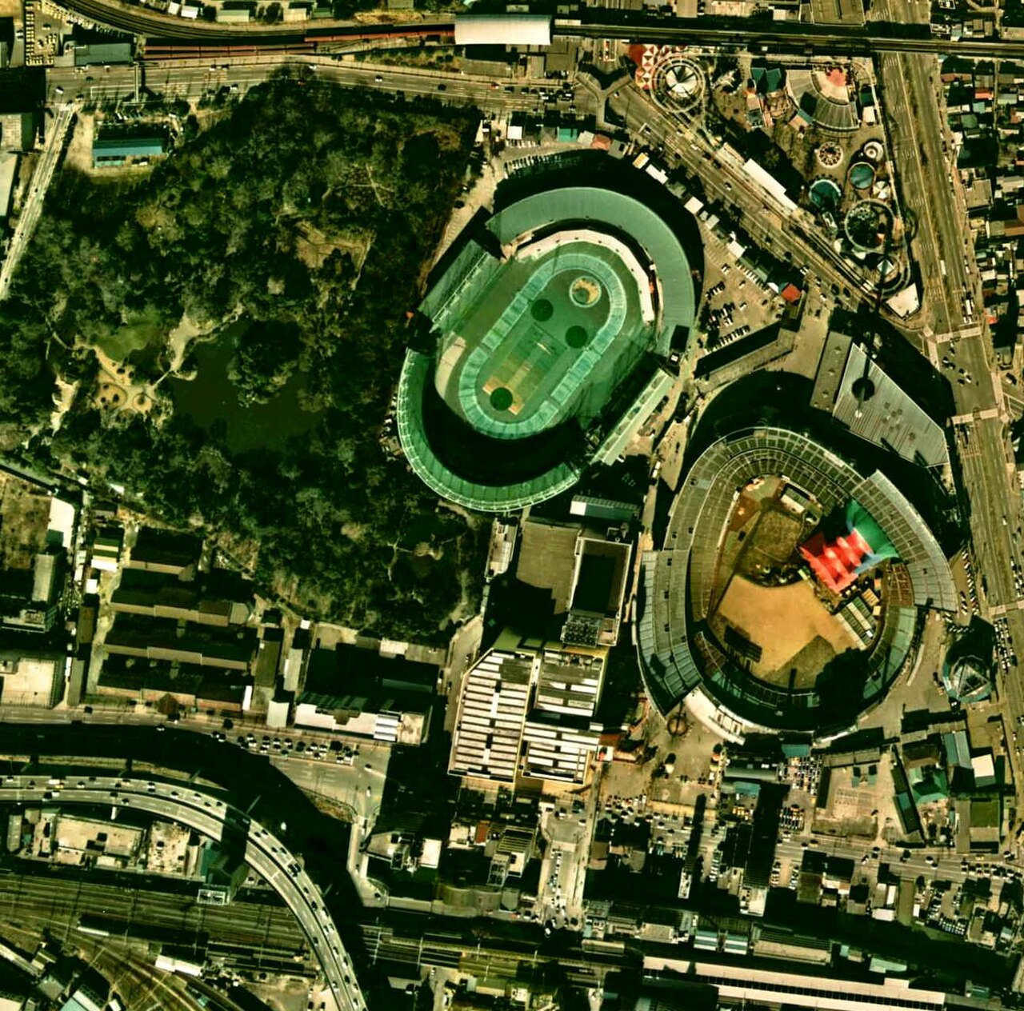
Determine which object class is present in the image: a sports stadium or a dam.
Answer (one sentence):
The one in the frame is a sports stadium.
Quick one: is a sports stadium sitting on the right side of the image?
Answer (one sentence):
Yes, looking on the right side of the image, one can make out a sports stadium.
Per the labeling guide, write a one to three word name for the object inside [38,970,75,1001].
building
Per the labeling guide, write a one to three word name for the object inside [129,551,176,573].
house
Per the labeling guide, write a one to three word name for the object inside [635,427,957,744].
stadium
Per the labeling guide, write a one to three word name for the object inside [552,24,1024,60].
bridge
